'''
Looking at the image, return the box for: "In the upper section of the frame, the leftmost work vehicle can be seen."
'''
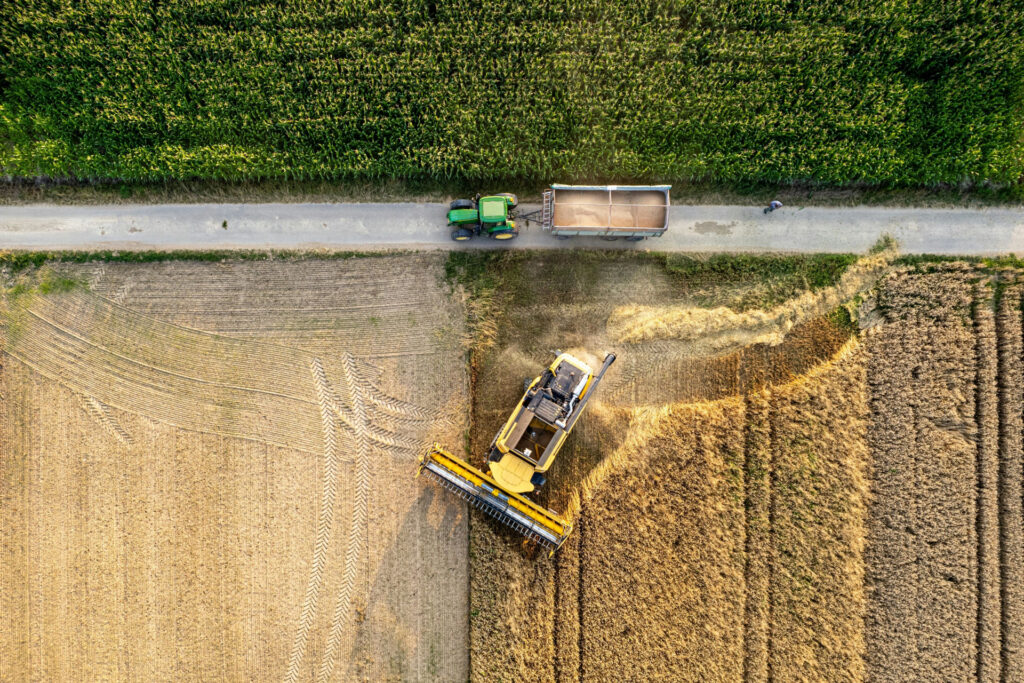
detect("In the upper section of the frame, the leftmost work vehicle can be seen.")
[446,193,523,239]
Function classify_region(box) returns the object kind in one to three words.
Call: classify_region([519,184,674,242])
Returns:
trailer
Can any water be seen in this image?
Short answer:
No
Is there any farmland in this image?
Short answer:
Yes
